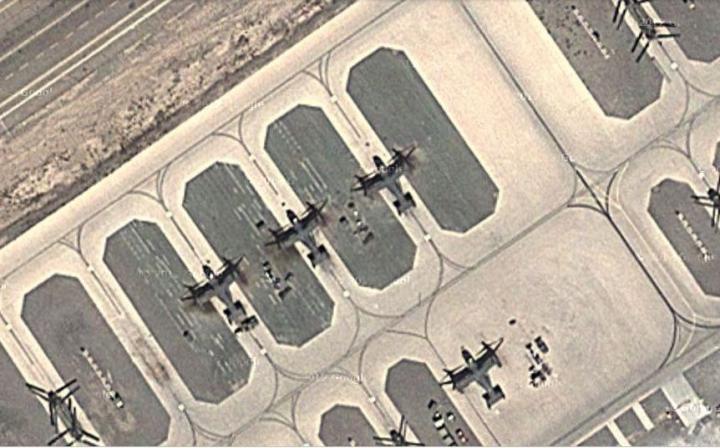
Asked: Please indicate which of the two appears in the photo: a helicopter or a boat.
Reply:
helicopter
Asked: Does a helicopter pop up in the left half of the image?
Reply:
Yes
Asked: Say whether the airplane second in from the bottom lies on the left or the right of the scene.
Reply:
left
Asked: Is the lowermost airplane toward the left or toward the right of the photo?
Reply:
right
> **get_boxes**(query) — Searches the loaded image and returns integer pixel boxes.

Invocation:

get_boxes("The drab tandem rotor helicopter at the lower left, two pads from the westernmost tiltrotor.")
[28,387,101,448]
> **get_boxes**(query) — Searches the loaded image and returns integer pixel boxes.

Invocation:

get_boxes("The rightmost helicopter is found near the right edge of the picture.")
[693,191,720,233]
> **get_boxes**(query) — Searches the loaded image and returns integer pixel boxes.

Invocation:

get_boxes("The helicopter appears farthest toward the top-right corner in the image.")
[618,0,681,61]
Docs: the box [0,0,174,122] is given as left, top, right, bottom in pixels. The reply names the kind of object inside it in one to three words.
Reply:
runway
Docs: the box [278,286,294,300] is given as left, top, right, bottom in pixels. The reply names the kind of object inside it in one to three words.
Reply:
work vehicle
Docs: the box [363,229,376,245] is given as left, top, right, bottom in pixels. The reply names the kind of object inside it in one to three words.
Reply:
vehicle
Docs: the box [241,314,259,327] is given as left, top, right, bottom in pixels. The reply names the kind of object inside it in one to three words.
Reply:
vehicle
